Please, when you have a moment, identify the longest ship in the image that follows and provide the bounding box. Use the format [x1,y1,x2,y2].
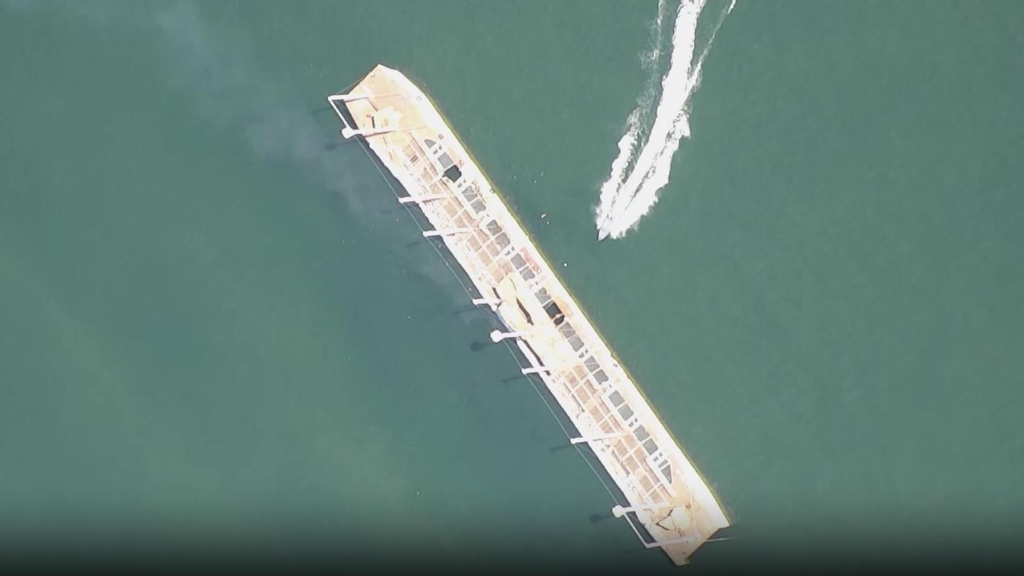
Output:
[328,64,736,565]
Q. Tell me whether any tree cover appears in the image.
No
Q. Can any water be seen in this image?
Yes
